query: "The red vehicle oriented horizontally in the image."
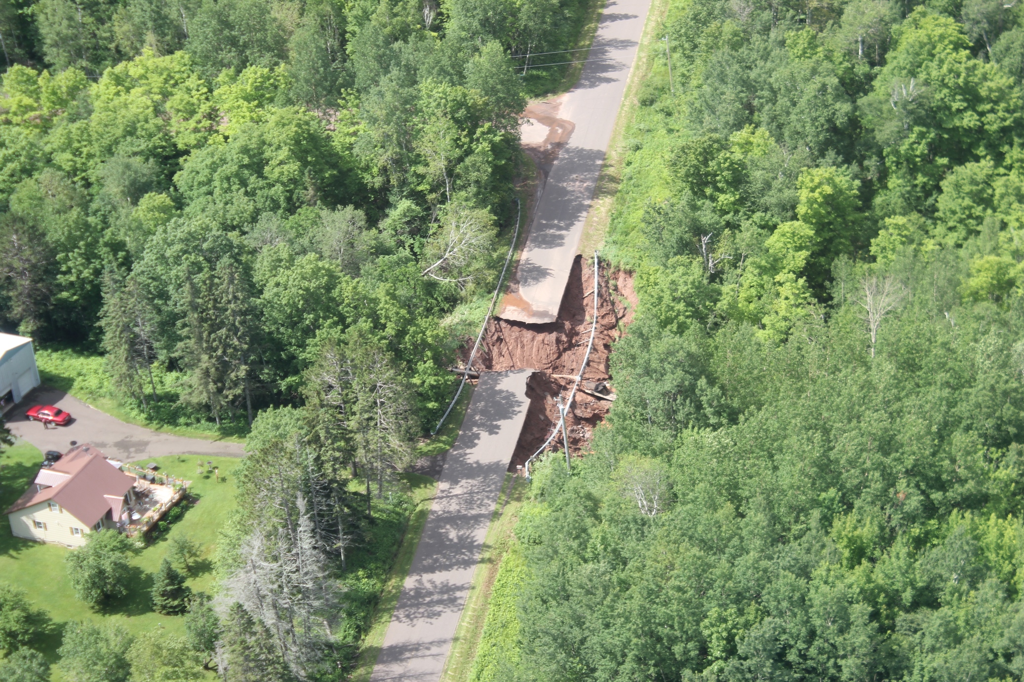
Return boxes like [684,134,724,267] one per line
[21,403,72,426]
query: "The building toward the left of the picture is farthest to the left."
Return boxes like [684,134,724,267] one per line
[0,331,52,434]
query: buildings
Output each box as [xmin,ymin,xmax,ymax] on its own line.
[0,331,52,434]
[6,441,140,554]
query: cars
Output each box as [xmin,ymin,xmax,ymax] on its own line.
[21,403,72,426]
[37,444,72,476]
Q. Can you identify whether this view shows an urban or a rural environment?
rural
